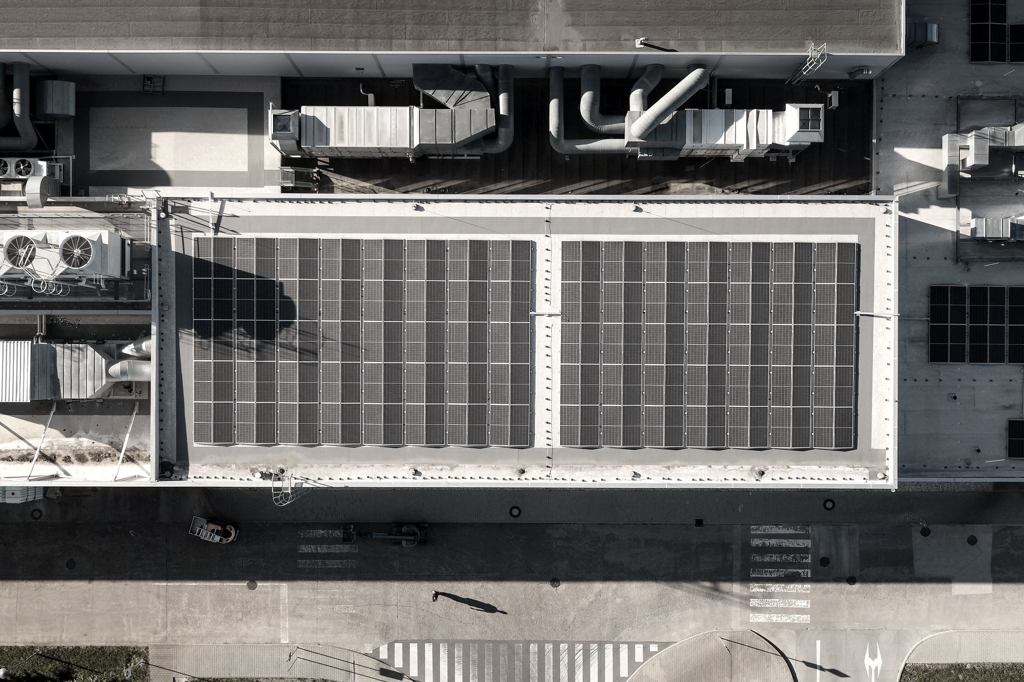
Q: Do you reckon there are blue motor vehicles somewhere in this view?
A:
No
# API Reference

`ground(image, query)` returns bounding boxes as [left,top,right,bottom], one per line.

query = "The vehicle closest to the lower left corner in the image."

[183,516,238,545]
